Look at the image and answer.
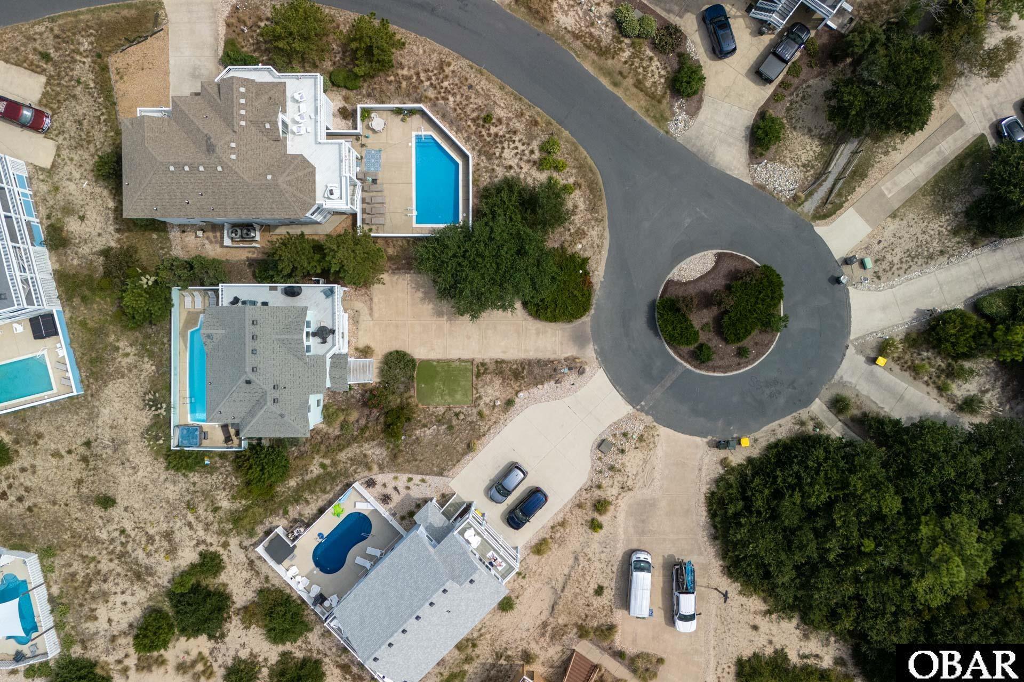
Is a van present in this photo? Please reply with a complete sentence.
Yes, the picture does show a van.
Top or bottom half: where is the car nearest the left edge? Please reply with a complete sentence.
It is in the top half that the car nearest the left edge appears.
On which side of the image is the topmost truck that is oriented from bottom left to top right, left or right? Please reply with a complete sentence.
The topmost truck that is oriented from bottom left to top right sits on the right side.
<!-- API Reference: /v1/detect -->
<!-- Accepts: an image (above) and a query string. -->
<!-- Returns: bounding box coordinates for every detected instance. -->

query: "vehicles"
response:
[487,458,529,505]
[755,23,807,88]
[992,107,1024,157]
[505,482,552,530]
[0,97,56,133]
[671,562,699,629]
[626,548,654,620]
[702,7,736,63]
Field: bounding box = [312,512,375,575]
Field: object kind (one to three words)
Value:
swimming pool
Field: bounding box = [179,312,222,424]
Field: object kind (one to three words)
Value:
swimming pool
